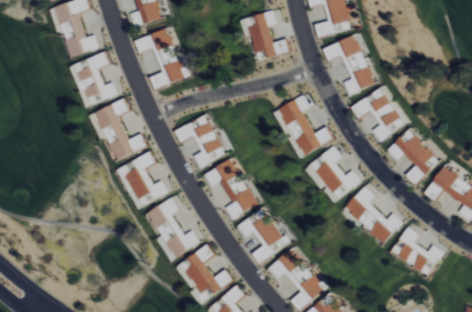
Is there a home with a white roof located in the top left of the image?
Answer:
Yes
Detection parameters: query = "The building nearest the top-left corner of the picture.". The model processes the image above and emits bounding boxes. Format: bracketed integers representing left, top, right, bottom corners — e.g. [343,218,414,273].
[46,0,100,58]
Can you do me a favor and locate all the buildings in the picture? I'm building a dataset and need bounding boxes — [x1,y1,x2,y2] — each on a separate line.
[169,112,234,170]
[130,23,192,90]
[391,223,448,276]
[272,92,336,158]
[310,286,360,312]
[424,158,472,224]
[341,182,408,243]
[206,282,258,312]
[348,82,414,144]
[237,10,293,62]
[46,0,100,58]
[305,144,366,203]
[124,0,170,26]
[116,150,173,206]
[264,242,329,312]
[385,128,446,186]
[171,246,232,304]
[234,203,293,264]
[87,100,146,162]
[305,0,362,36]
[200,152,266,222]
[145,194,206,260]
[318,30,382,98]
[68,52,122,106]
